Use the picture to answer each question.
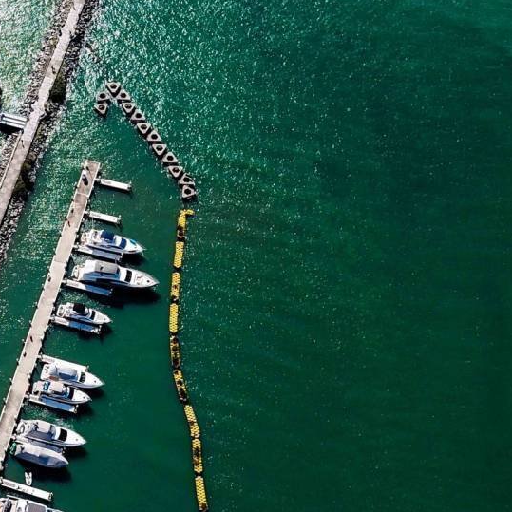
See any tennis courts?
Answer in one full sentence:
No, the photo shows no tennis court.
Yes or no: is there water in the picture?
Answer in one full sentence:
Yes, some water is visible.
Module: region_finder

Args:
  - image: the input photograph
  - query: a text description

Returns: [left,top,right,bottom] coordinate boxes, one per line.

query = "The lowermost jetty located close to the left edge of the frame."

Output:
[0,477,53,500]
